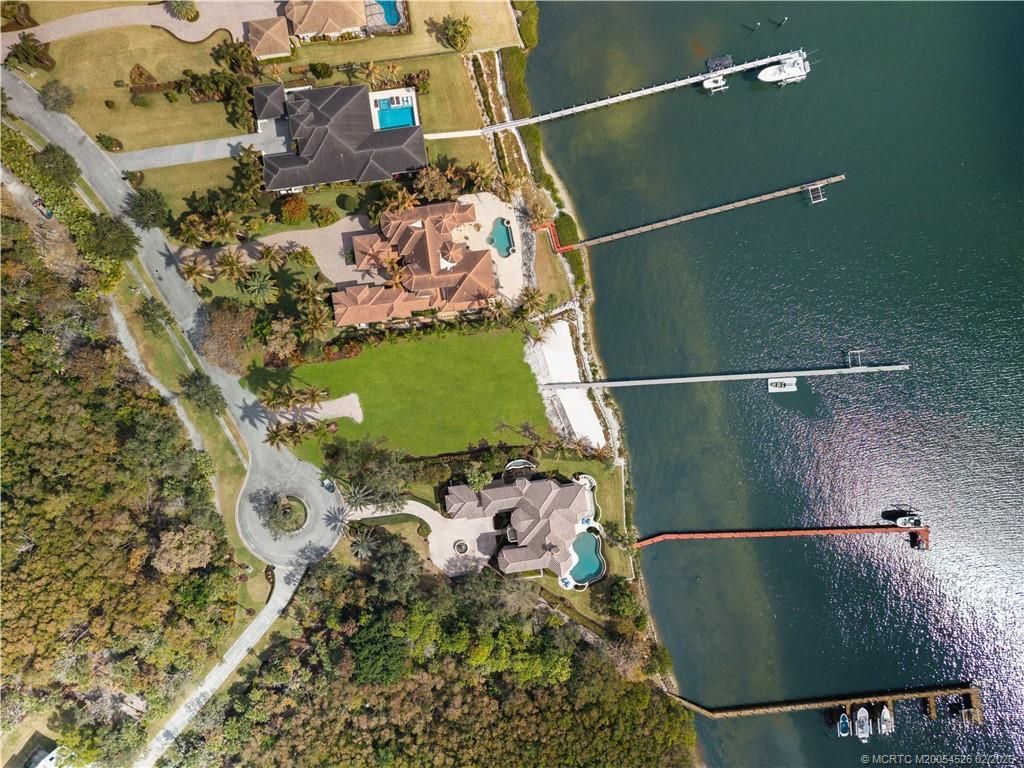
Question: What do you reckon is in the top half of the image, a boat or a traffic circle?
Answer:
boat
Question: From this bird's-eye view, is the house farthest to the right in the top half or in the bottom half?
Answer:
bottom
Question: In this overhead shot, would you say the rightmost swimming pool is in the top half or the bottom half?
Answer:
bottom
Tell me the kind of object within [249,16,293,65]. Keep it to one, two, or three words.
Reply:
house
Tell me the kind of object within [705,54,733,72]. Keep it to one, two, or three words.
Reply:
pier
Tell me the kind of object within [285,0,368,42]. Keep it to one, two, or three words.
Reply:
house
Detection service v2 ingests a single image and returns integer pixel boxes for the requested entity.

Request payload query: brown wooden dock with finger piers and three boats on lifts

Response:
[662,681,985,723]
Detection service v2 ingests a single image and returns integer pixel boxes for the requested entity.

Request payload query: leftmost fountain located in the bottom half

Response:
[451,538,470,557]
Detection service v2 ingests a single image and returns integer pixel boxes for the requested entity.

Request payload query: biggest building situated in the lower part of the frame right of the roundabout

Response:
[445,472,588,579]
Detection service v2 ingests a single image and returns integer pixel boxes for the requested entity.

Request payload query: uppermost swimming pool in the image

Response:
[367,0,405,30]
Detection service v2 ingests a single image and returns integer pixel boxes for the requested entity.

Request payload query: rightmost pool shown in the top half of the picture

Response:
[484,211,517,260]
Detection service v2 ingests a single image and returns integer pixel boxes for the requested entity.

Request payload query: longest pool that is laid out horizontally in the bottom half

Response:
[504,459,537,473]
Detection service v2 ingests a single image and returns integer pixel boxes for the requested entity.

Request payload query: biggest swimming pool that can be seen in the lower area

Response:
[556,473,608,593]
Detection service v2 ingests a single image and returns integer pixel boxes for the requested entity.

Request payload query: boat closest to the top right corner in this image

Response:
[758,55,811,80]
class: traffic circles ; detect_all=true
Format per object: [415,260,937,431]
[260,494,308,536]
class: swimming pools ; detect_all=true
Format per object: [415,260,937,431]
[369,87,420,131]
[556,473,608,593]
[504,459,537,473]
[367,0,405,30]
[484,211,517,260]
